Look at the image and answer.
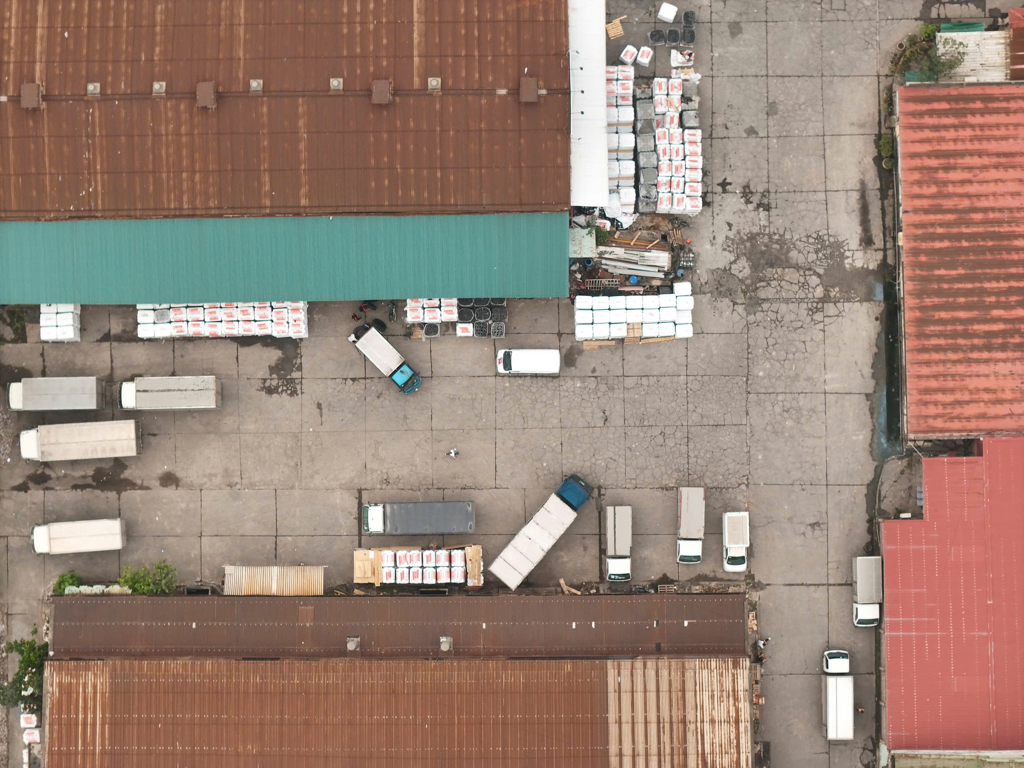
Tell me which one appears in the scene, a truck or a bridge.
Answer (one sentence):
Of the two, only a truck appears.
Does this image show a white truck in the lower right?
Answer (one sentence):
Yes, a white truck shows up in the lower right.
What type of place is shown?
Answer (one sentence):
What you see here is an industrial area.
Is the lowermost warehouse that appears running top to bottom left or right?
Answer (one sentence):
It is on the right.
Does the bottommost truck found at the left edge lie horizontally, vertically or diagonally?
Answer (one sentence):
The bottommost truck found at the left edge runs horizontally in the image.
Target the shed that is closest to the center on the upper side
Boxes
[569,228,596,261]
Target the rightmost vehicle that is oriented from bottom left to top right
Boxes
[489,468,600,590]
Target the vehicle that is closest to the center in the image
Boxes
[496,346,560,376]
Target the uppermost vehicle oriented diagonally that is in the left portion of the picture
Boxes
[355,327,426,398]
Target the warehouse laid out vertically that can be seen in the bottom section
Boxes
[880,435,1024,750]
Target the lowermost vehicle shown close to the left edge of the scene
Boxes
[28,518,130,558]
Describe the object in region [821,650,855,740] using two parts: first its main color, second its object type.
white truck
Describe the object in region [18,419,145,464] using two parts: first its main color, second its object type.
white truck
